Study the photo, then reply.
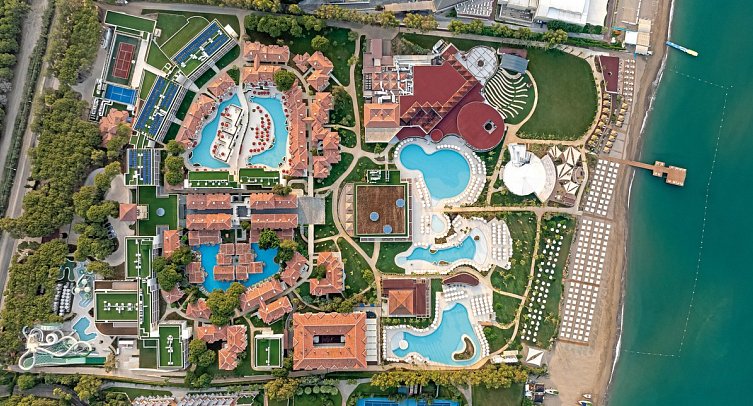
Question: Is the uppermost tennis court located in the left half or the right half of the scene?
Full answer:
The uppermost tennis court is on the left side of the image.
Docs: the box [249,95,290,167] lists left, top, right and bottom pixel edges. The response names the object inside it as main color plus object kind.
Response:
blue swimming pool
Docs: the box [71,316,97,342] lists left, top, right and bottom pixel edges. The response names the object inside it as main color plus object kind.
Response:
blue swimming pool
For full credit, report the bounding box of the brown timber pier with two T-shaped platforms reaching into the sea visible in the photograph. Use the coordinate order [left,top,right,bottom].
[611,156,687,186]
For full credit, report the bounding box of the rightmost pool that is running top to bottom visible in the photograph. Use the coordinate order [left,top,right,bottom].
[471,228,488,266]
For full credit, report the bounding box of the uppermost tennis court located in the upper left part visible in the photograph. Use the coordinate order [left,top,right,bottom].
[104,31,141,85]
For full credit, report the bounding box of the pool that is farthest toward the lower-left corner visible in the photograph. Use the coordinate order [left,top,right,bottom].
[23,352,66,367]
